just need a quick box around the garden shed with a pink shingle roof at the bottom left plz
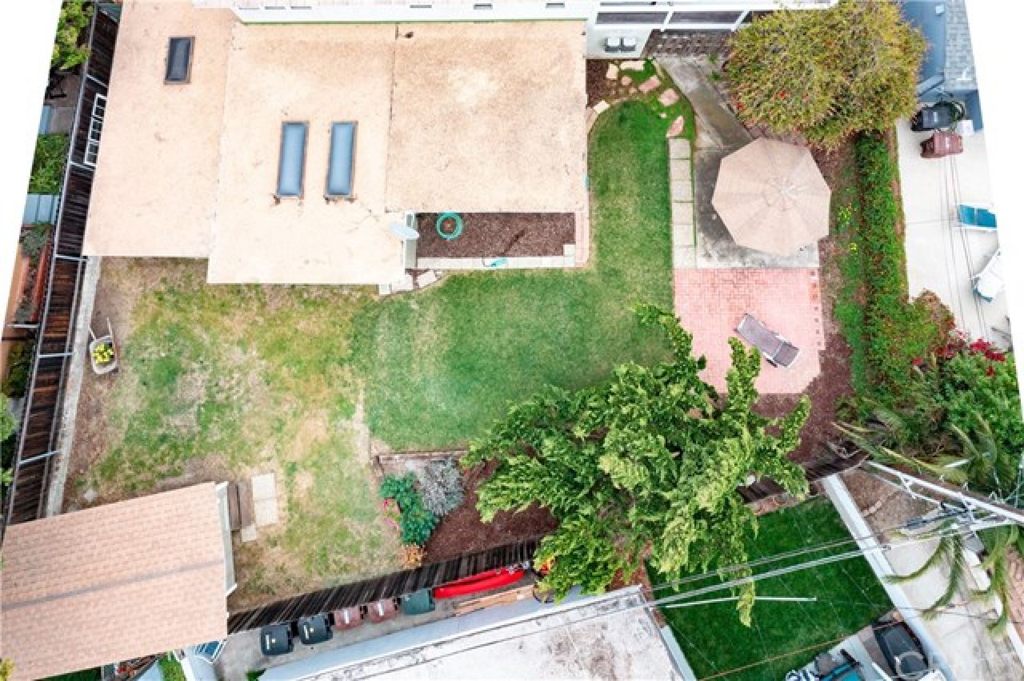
[0,482,237,681]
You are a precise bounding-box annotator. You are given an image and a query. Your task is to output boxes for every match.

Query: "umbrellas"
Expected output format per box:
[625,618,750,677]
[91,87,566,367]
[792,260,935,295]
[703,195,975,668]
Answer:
[712,139,830,257]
